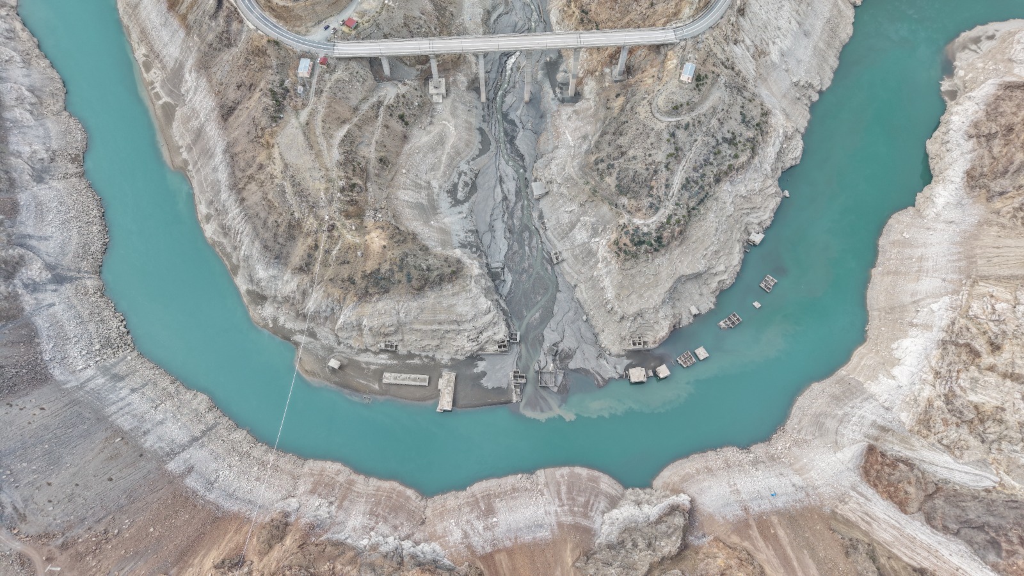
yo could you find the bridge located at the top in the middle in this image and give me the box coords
[325,27,681,103]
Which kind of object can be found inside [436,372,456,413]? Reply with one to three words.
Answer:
house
